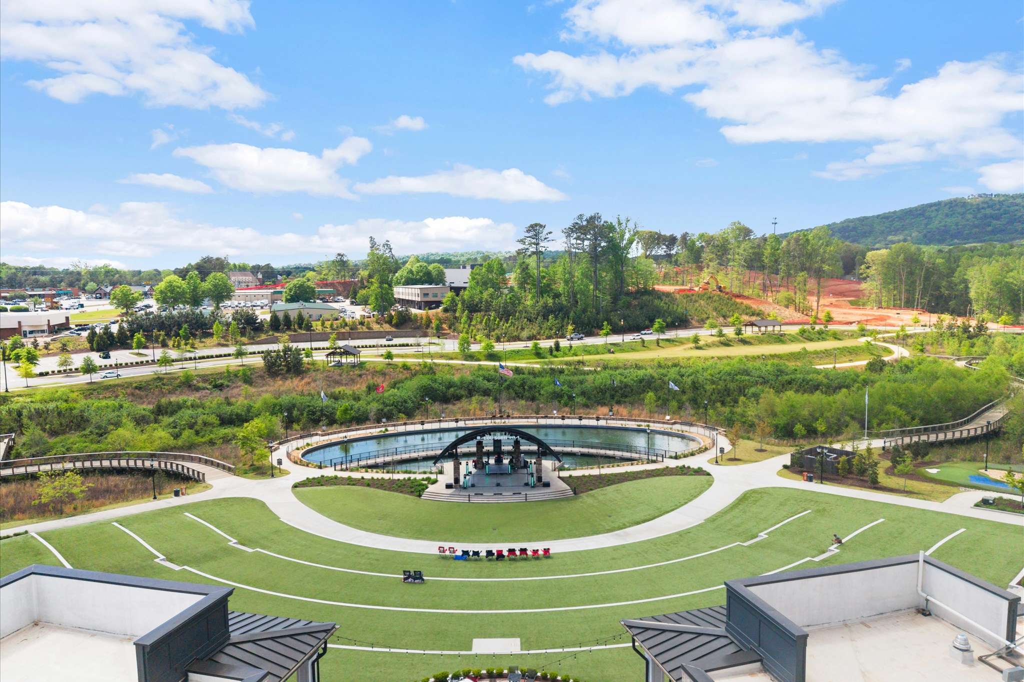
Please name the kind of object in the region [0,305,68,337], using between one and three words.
building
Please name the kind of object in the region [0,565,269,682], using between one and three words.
building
